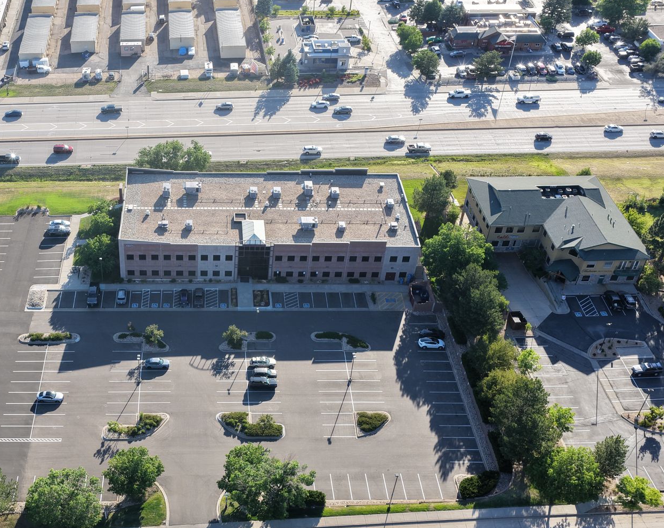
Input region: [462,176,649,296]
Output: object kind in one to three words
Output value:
building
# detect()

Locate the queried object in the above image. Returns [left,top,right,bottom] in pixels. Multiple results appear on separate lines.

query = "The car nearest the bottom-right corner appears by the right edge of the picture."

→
[632,363,662,377]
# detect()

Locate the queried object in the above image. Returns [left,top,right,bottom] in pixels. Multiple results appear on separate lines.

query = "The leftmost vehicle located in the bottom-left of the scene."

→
[36,392,65,404]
